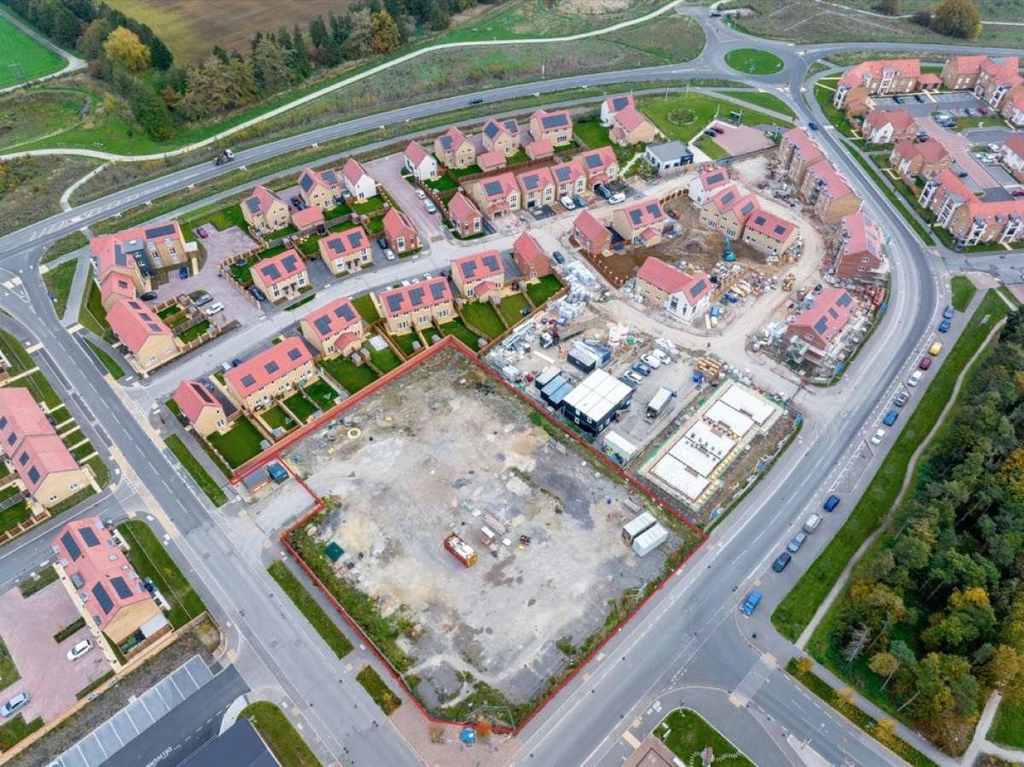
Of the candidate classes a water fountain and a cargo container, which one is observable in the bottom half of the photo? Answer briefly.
cargo container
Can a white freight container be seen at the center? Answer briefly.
Yes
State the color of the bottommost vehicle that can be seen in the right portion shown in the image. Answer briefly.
blue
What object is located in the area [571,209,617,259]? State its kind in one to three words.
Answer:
house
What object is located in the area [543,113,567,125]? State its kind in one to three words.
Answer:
solar panel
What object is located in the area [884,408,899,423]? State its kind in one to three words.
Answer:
car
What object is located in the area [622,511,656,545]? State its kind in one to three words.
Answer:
shipping container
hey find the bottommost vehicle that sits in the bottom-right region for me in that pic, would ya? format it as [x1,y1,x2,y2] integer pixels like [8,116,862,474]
[741,587,763,616]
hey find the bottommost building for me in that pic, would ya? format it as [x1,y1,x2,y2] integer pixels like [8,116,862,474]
[175,716,287,767]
